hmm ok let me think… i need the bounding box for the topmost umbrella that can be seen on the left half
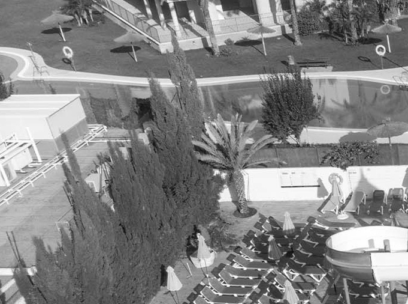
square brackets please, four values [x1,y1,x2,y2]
[41,10,76,41]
